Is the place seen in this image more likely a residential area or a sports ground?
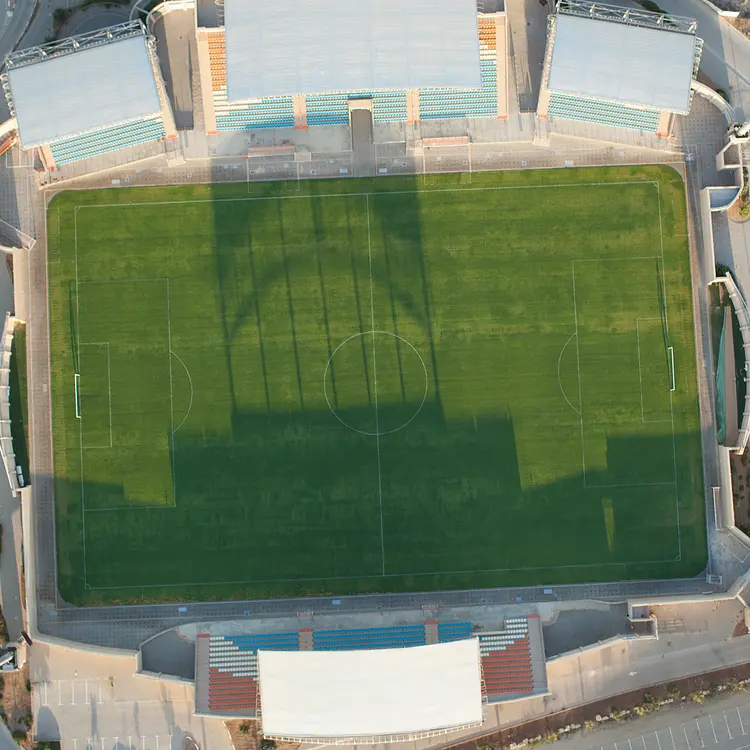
sports ground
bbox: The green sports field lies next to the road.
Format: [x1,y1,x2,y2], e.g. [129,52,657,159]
[44,161,713,610]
